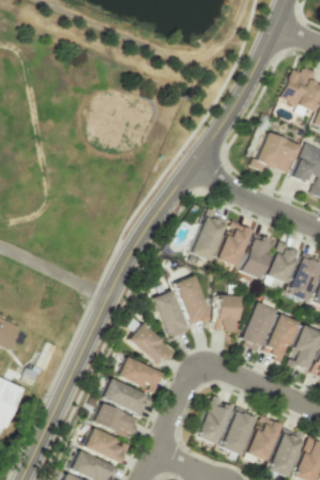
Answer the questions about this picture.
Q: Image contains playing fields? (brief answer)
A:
Yes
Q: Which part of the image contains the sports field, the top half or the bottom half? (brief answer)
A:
top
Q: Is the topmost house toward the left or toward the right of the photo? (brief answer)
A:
right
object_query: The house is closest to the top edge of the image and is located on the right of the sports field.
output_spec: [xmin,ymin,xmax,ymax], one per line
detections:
[279,65,320,114]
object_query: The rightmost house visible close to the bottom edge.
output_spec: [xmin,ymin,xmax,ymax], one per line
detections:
[296,436,320,480]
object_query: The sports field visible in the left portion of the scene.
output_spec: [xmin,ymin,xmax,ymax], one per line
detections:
[79,88,154,156]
